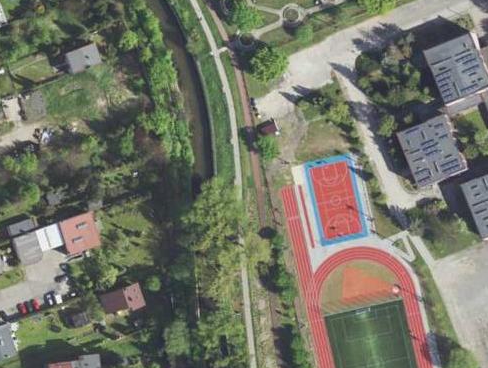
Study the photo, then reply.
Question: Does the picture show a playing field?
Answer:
Yes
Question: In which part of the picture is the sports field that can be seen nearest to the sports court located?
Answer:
bottom right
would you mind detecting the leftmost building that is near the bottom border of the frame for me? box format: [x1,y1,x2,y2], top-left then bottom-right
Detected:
[0,323,19,359]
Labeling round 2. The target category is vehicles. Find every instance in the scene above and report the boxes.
[18,302,25,314]
[60,262,68,273]
[56,276,68,281]
[54,294,62,305]
[32,298,39,310]
[45,293,52,305]
[0,309,6,320]
[25,300,32,311]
